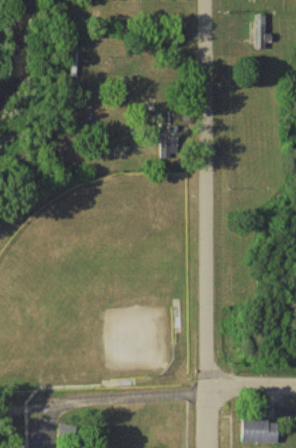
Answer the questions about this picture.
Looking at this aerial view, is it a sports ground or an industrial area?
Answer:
sports ground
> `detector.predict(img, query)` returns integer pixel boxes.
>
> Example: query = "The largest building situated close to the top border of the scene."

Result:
[253,14,272,50]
